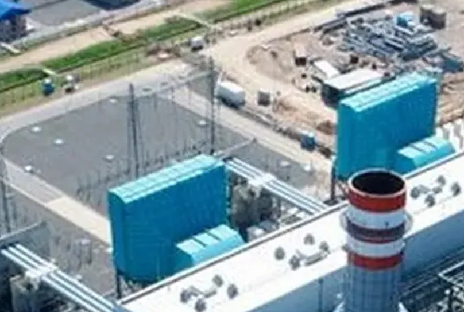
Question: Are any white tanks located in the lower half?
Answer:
No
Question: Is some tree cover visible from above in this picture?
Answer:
No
